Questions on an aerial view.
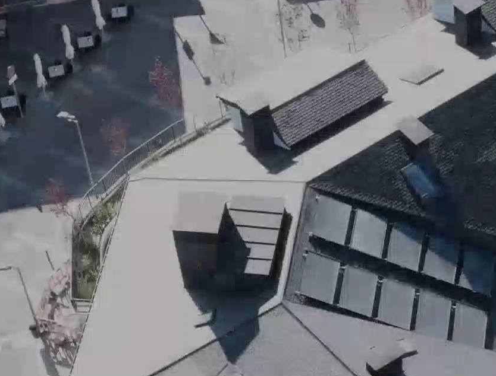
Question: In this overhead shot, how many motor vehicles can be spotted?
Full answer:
I count no motor vehicles.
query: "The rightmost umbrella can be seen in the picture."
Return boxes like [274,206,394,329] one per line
[94,0,110,36]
